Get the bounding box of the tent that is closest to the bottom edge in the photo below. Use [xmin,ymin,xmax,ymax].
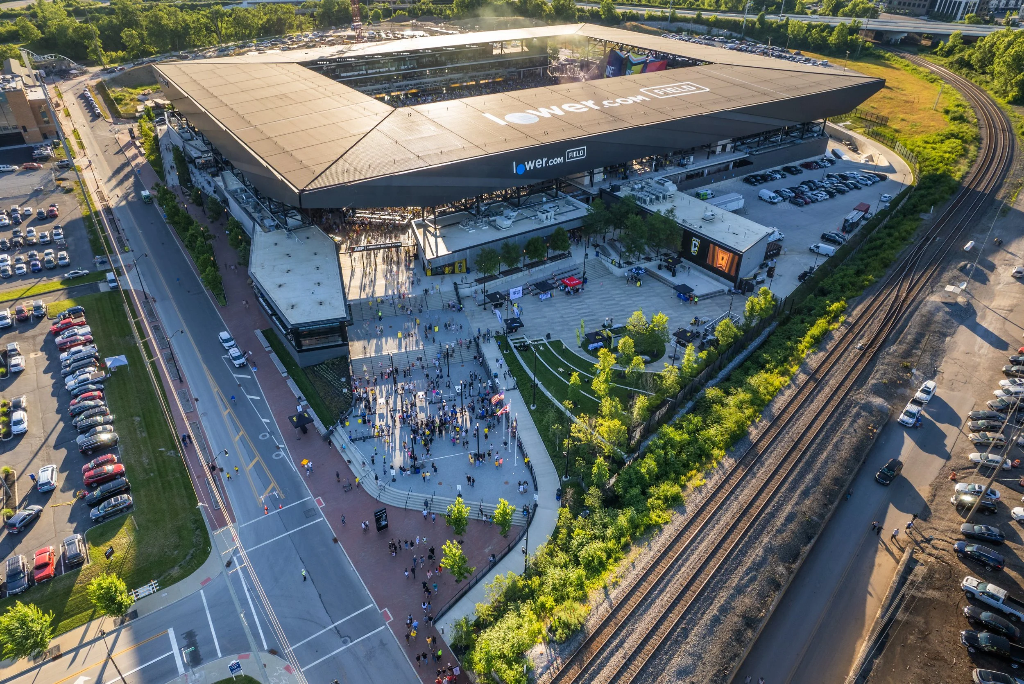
[285,413,315,444]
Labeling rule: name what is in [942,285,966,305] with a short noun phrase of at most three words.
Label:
shed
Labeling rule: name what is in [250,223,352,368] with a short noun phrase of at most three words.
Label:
building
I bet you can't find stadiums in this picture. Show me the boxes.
[150,23,886,229]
